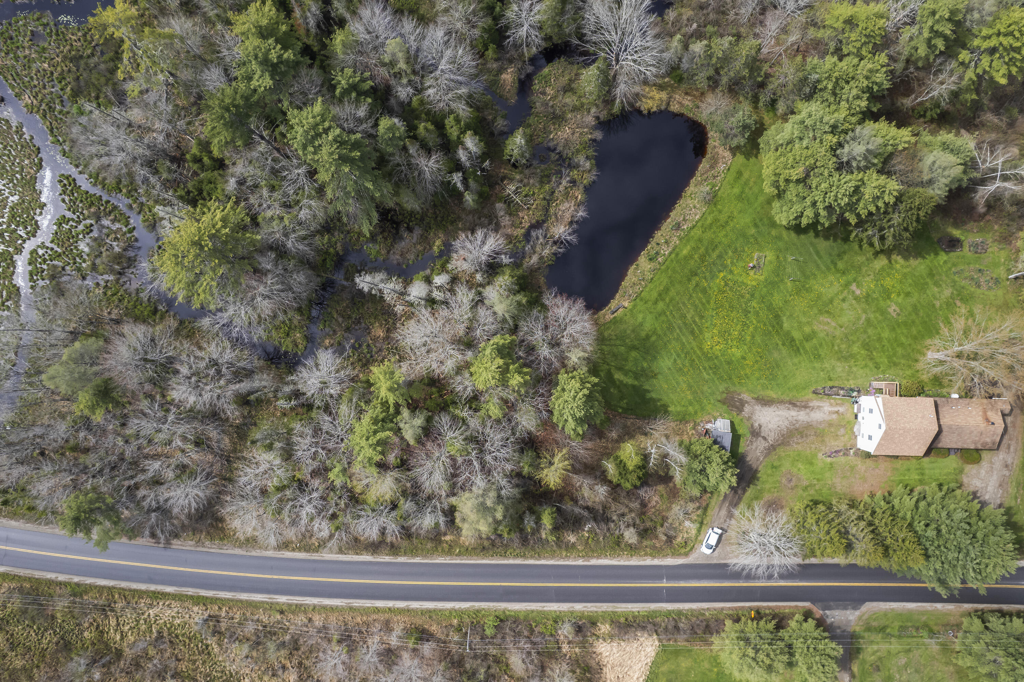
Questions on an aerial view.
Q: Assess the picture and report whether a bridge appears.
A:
No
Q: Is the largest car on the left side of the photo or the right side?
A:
right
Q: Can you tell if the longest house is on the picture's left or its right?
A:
right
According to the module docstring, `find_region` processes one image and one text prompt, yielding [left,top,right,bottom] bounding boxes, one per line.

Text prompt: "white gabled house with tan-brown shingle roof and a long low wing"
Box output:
[858,381,1014,456]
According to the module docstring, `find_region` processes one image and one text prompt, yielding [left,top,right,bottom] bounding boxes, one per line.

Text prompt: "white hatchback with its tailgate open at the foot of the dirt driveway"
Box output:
[704,529,725,556]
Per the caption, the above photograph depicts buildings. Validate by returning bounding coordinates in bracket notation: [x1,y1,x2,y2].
[707,429,733,454]
[858,381,1014,456]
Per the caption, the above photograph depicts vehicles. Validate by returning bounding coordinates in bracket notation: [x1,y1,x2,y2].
[851,395,860,404]
[704,529,725,556]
